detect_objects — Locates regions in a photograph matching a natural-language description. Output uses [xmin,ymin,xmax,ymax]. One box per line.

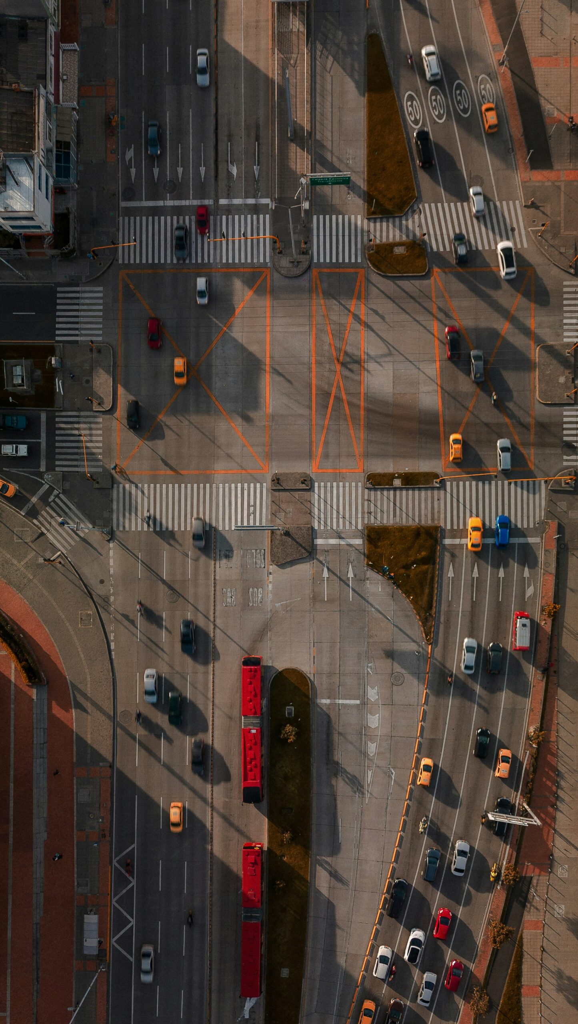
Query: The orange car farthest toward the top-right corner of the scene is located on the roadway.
[479,103,498,136]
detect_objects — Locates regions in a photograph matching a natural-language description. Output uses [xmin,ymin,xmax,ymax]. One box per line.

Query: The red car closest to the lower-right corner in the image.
[442,956,465,992]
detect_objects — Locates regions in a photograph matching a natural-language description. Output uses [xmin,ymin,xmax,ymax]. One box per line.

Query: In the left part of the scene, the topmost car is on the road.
[194,49,211,89]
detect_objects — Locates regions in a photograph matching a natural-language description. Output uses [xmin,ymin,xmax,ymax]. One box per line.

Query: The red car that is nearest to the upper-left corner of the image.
[194,205,210,236]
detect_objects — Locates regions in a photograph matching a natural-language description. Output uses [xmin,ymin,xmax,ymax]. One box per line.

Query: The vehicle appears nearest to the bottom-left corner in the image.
[139,941,155,981]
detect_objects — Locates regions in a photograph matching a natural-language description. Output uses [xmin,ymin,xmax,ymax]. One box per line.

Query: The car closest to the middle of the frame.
[192,517,207,549]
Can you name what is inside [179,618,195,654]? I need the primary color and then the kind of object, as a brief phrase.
black car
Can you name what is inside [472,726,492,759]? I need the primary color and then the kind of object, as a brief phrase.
black car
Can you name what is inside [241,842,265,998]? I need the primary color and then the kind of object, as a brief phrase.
red bus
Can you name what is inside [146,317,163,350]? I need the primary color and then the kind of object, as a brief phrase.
red car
